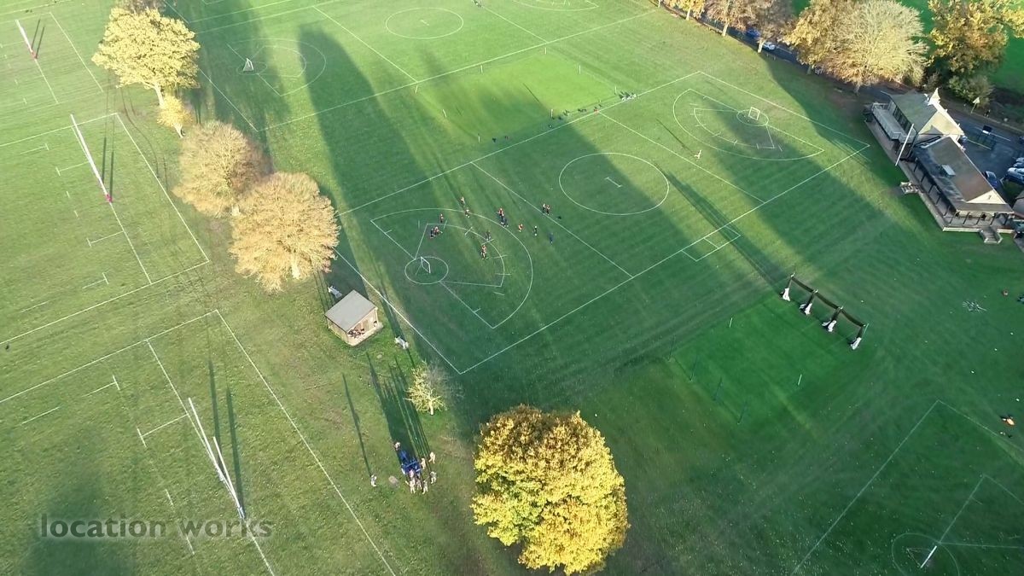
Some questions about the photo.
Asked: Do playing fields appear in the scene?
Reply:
Yes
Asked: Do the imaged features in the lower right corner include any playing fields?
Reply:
Yes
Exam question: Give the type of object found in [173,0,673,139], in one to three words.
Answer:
sports field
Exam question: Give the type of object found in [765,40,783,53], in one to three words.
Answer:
vehicle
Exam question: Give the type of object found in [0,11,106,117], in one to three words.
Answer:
sports field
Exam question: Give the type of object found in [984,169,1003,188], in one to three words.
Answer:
car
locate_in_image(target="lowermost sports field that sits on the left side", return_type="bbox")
[0,306,403,576]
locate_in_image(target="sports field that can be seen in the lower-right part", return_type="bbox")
[696,347,1024,576]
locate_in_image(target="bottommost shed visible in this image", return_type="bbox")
[321,294,381,347]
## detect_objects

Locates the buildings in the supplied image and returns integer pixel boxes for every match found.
[859,82,1018,243]
[321,294,381,347]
